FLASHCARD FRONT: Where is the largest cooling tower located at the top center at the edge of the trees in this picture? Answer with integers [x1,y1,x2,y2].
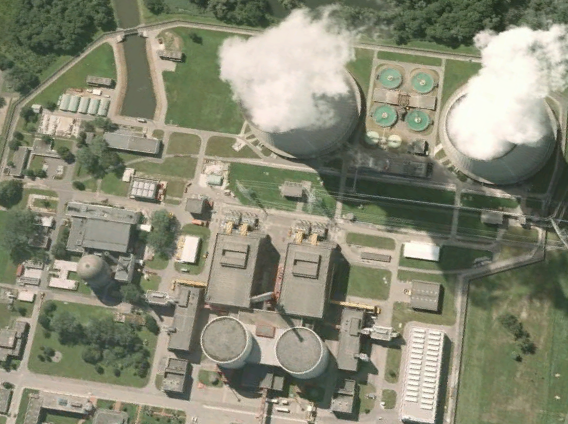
[245,44,359,157]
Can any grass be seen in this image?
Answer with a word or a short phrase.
Yes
